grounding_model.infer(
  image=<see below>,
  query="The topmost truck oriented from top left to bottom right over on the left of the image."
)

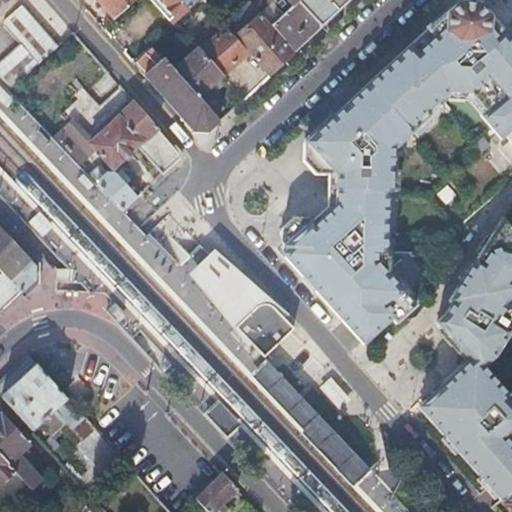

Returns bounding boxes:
[166,118,194,150]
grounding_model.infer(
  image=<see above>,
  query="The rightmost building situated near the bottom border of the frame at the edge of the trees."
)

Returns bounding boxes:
[416,362,512,500]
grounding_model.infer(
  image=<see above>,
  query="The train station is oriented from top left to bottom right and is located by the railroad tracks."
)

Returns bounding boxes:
[0,84,420,512]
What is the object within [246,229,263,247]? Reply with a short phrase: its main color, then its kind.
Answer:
white car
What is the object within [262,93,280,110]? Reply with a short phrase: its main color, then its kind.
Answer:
white car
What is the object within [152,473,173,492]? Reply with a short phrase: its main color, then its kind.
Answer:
white vehicle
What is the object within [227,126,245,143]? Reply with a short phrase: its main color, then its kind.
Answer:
gray car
